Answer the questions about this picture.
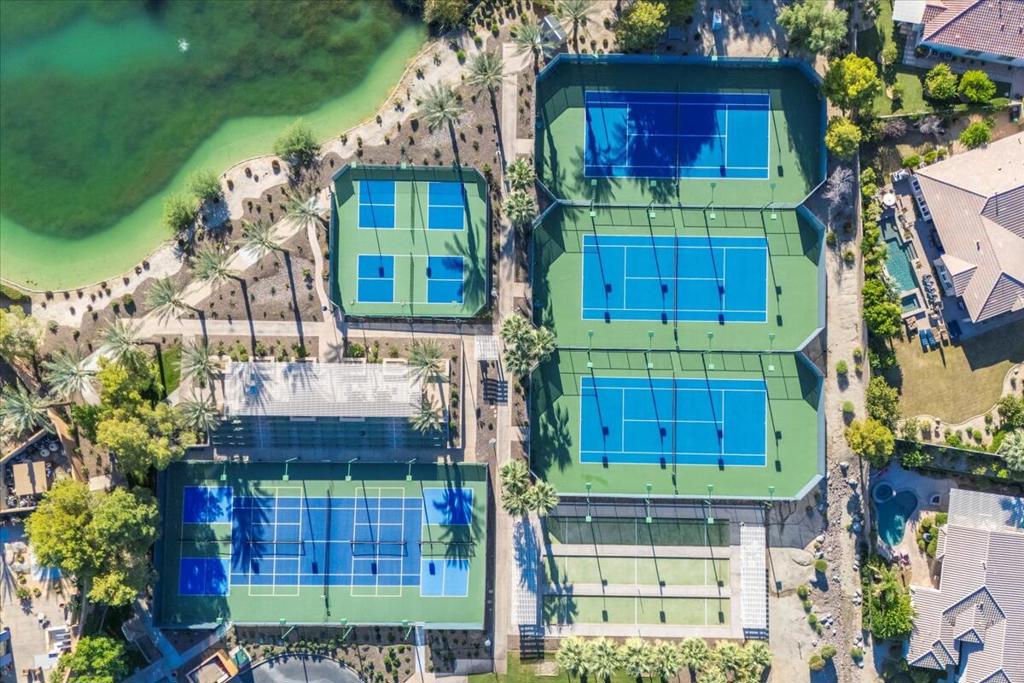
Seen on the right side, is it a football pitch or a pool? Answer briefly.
pool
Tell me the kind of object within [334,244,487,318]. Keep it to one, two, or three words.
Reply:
sports court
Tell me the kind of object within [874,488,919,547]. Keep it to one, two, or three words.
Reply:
swimming pool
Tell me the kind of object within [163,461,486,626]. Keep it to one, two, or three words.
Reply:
tennis court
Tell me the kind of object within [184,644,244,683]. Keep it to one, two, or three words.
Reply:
shed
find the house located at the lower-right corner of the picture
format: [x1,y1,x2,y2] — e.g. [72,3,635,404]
[904,525,1024,683]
